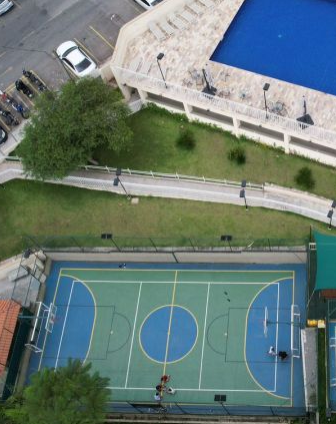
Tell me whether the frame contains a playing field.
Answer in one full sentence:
Yes, you can see a playing field in this photo.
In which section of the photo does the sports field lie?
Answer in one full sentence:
The sports field is located in the bottom region of the scene.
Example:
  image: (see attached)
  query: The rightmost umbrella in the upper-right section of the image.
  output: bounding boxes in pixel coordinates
[298,95,313,126]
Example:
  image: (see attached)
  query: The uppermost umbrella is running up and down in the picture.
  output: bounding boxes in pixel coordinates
[202,63,216,95]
